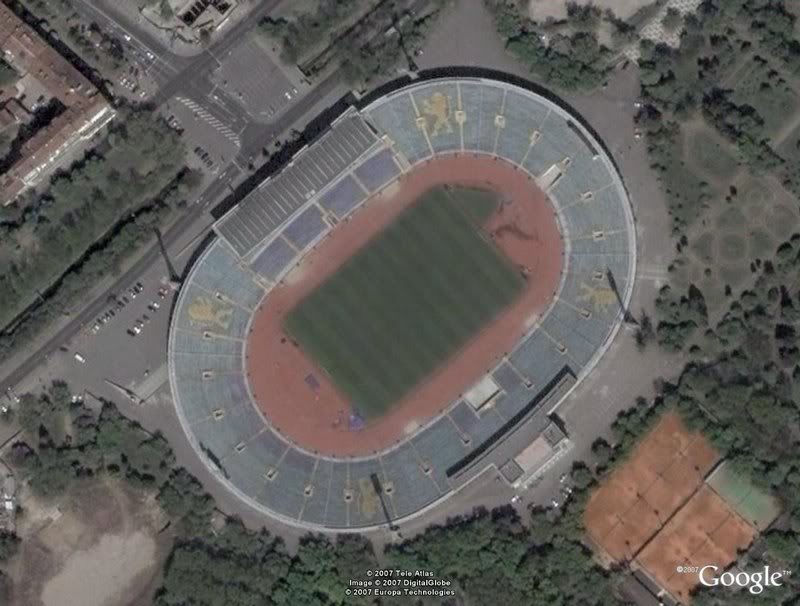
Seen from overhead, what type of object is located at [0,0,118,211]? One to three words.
building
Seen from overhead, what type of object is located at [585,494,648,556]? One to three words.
tennis court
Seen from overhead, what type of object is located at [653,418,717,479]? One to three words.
tennis court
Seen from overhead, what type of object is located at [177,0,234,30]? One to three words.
building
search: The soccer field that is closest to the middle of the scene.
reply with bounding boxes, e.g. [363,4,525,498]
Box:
[286,187,526,417]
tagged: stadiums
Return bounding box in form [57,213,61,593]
[166,78,638,533]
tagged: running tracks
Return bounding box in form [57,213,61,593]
[243,151,568,460]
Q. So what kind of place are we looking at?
sports ground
